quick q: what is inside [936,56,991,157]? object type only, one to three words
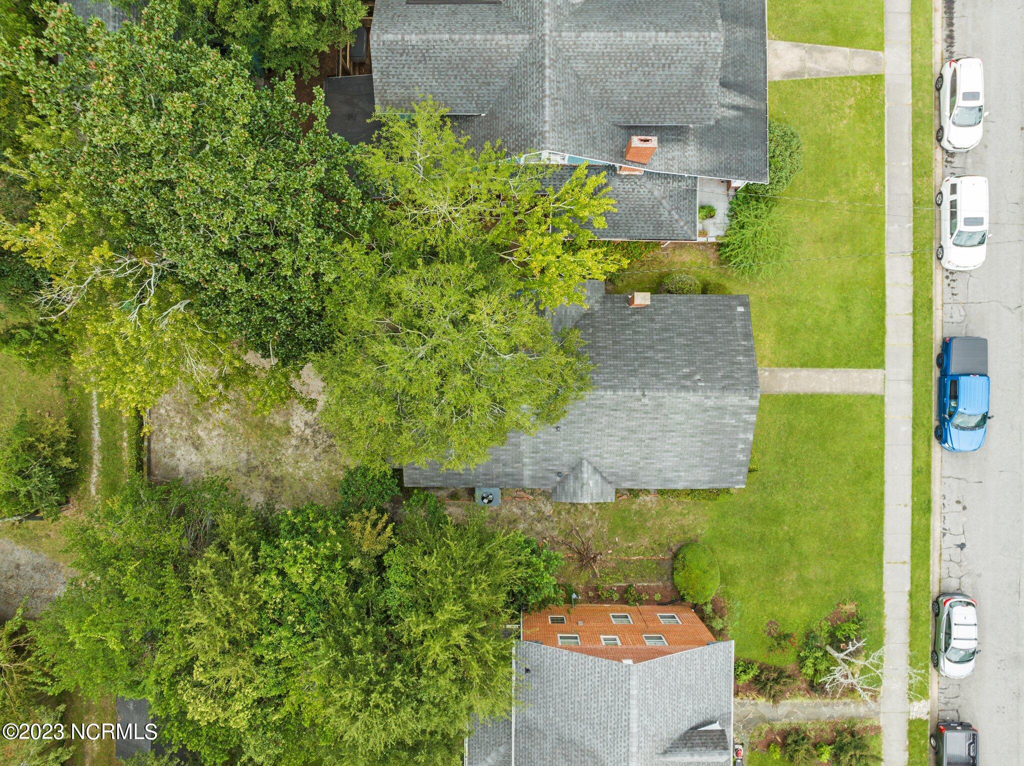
car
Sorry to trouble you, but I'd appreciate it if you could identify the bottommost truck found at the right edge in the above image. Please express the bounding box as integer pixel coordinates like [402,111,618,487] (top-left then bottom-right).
[932,715,983,766]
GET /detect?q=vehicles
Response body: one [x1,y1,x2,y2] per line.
[936,56,991,157]
[932,715,983,766]
[936,338,995,454]
[937,175,994,274]
[932,591,987,680]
